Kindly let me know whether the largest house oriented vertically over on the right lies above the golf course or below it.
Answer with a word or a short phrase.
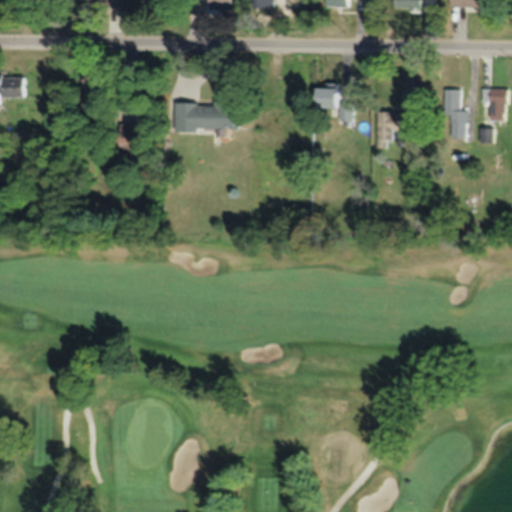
above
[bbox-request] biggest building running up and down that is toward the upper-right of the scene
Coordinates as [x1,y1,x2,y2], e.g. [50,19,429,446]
[445,87,470,143]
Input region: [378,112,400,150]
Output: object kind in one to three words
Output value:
house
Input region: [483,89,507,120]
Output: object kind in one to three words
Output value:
house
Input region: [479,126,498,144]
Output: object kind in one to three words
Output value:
shed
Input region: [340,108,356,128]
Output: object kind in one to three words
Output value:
building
